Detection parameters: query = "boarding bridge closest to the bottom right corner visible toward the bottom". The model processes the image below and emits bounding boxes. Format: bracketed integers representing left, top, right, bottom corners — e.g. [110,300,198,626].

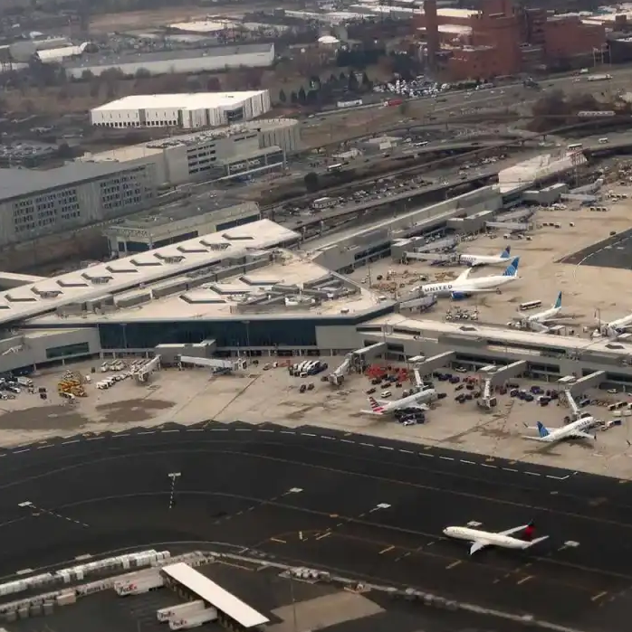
[557,366,605,420]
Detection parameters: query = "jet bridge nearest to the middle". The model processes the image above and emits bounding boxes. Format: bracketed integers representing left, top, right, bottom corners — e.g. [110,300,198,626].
[328,337,386,385]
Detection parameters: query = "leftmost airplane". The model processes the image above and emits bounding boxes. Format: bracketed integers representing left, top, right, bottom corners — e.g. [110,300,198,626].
[362,390,435,415]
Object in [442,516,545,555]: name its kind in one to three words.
airplane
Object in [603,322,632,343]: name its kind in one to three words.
jet bridge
